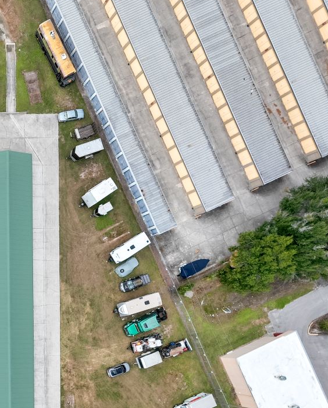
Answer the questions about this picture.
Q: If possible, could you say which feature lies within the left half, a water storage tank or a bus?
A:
bus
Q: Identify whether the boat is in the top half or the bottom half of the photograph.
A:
bottom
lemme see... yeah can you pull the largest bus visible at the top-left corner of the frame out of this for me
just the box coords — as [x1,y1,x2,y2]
[37,20,73,92]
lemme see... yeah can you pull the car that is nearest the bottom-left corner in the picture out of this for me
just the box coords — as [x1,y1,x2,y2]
[106,361,131,377]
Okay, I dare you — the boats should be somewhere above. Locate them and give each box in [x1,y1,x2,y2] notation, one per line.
[174,259,210,282]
